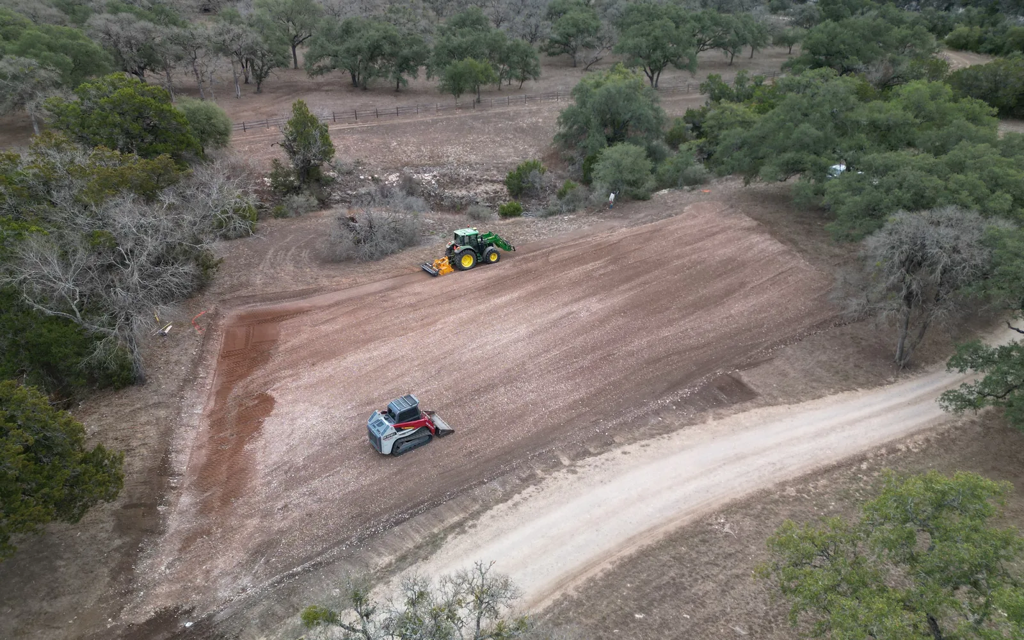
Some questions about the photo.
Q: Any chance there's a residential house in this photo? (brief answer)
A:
No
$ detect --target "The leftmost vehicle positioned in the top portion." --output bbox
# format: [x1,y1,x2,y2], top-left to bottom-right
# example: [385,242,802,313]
[443,226,512,271]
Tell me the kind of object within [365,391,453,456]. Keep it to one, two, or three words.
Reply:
work vehicle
